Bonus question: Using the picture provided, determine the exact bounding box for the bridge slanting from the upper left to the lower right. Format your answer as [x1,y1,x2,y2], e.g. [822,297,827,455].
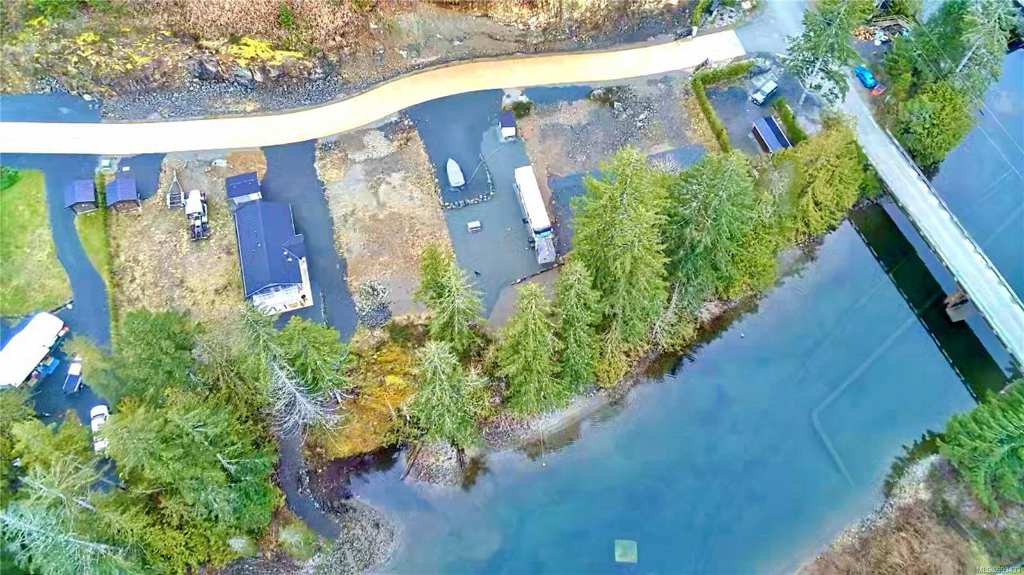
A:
[853,132,1024,375]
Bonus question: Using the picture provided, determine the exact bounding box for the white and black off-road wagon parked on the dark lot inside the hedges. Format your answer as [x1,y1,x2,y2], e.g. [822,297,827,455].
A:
[750,78,780,108]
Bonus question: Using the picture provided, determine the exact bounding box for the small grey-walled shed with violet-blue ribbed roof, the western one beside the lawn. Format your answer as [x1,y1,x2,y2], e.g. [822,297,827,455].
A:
[67,181,101,217]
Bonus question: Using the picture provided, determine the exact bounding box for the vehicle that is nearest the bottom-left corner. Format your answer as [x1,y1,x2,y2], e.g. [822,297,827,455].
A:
[90,399,116,453]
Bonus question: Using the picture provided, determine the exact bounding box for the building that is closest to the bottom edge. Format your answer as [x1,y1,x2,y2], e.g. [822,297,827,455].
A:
[236,204,316,322]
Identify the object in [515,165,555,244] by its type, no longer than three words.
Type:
camper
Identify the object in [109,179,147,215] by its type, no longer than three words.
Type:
shed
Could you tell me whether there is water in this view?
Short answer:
Yes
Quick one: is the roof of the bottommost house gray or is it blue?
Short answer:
blue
